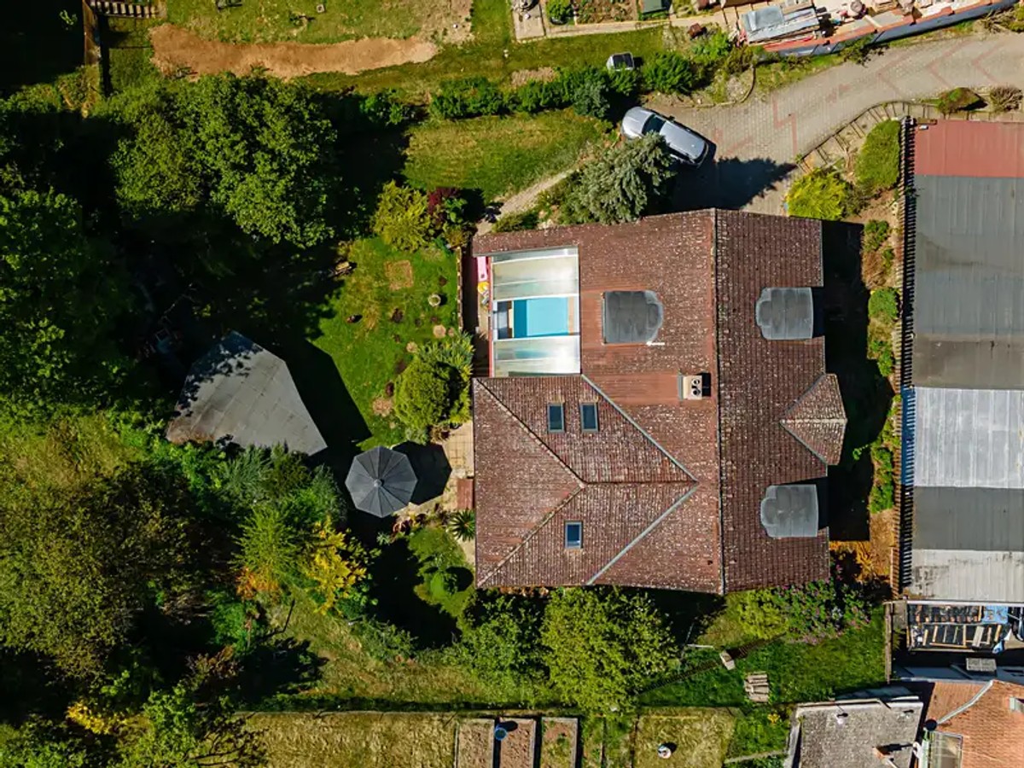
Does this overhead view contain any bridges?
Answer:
No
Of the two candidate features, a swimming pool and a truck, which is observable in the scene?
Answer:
swimming pool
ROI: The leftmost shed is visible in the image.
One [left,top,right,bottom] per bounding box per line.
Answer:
[166,331,327,455]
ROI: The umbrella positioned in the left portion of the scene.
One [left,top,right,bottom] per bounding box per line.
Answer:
[346,446,418,519]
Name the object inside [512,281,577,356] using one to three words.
swimming pool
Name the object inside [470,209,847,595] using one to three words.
house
